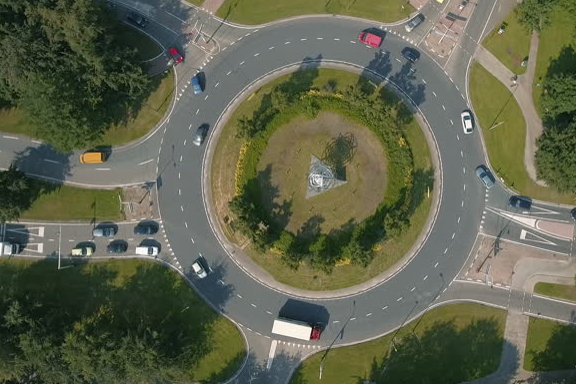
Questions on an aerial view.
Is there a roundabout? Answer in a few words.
Yes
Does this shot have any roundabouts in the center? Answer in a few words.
Yes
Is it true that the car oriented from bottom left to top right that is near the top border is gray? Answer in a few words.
Yes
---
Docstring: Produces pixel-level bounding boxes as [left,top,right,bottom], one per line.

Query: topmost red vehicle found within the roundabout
[359,32,383,46]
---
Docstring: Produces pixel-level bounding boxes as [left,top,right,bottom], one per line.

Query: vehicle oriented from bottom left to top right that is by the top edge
[403,12,425,32]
